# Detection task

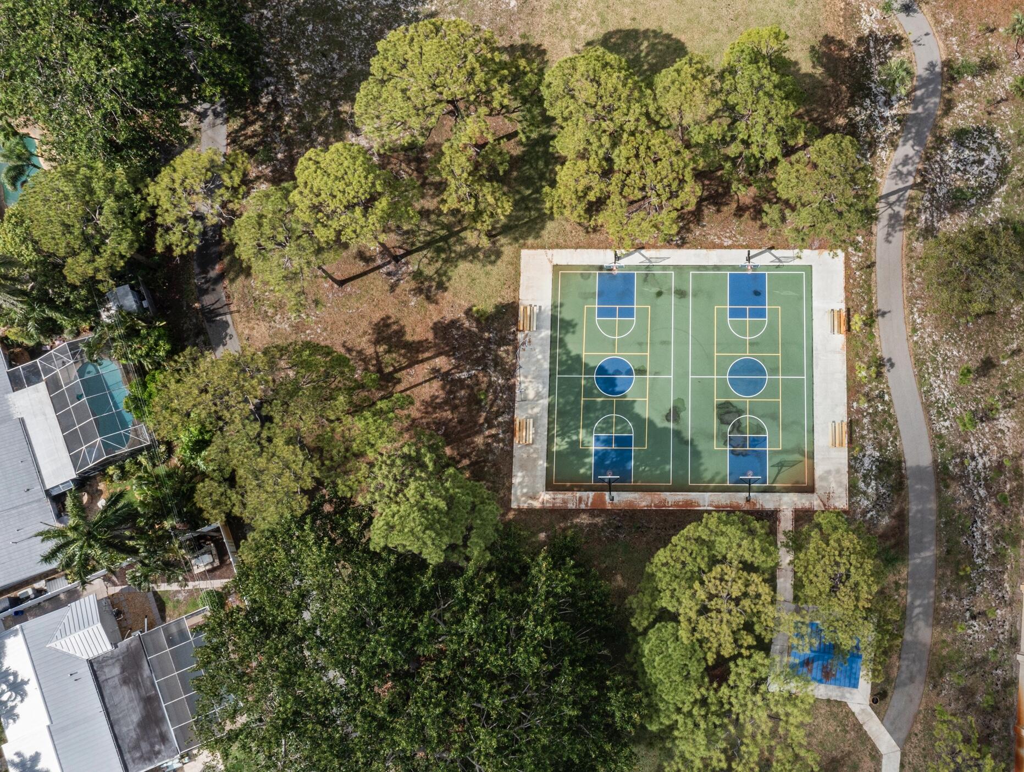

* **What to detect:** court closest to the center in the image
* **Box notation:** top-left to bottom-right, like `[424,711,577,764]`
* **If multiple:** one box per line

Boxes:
[545,264,682,492]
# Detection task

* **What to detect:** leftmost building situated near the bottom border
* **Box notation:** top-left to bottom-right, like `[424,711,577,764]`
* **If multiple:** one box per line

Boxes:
[0,593,190,772]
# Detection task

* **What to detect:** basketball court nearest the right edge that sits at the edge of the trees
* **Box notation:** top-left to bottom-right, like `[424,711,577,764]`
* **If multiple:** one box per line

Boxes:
[680,265,815,493]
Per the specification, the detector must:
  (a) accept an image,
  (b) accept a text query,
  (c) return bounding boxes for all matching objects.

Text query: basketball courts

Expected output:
[545,264,682,492]
[680,265,815,493]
